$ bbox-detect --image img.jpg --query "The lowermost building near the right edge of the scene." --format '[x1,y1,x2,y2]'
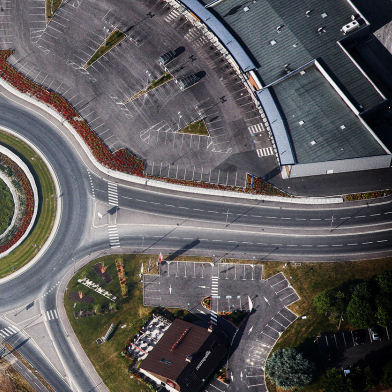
[256,62,392,177]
